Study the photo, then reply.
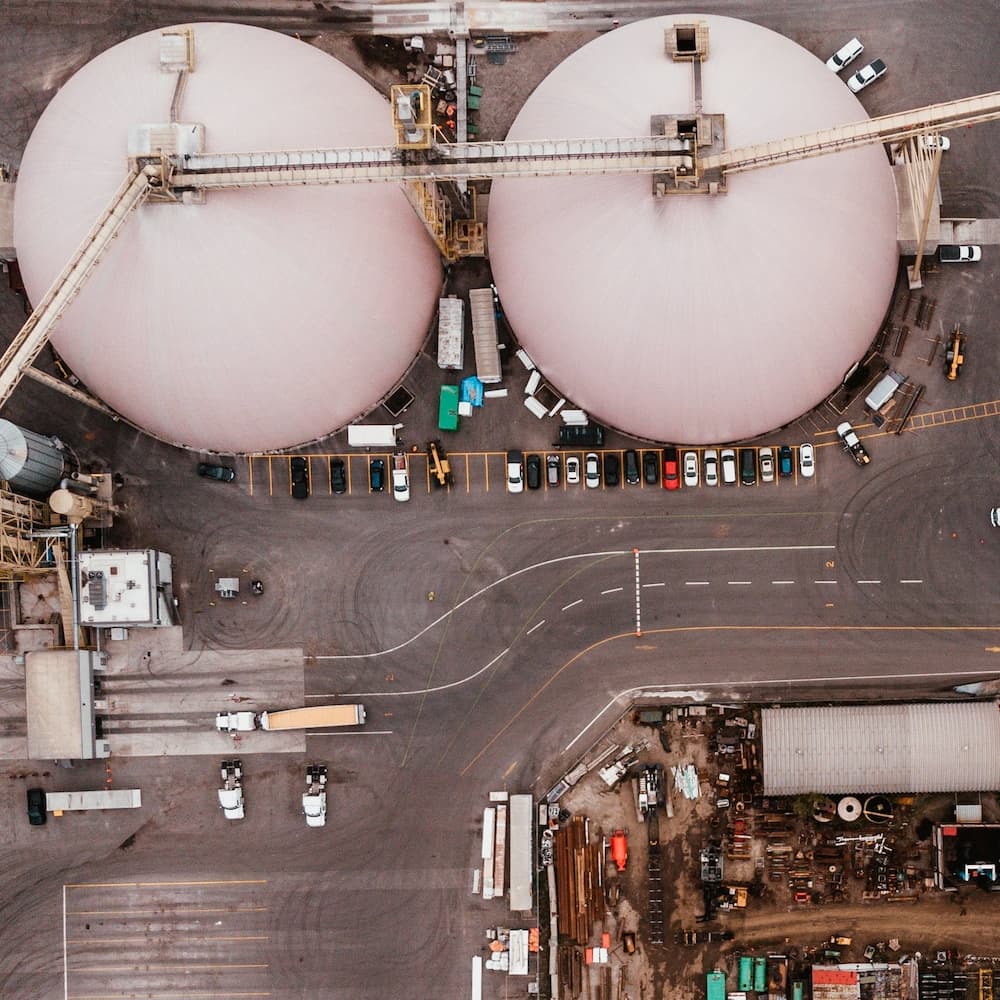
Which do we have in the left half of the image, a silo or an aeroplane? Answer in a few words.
silo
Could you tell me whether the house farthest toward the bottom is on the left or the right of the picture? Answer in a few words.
right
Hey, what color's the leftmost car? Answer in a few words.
black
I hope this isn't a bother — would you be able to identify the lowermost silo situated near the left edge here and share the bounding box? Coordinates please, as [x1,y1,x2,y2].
[50,489,104,529]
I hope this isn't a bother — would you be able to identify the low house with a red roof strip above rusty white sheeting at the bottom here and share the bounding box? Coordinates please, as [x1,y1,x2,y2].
[812,963,905,1000]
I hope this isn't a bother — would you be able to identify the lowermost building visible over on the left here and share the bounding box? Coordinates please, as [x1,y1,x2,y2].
[79,550,182,632]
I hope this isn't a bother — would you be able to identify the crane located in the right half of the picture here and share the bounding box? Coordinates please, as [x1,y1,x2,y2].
[632,755,668,946]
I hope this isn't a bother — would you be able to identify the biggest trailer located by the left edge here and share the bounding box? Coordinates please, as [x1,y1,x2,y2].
[47,789,146,811]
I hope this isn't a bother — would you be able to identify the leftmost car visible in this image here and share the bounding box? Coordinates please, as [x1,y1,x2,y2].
[26,788,48,826]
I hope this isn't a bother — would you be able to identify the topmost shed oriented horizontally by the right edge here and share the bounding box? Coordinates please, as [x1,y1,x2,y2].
[763,701,1000,796]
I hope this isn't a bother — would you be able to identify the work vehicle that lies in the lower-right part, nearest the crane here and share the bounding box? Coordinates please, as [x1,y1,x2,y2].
[709,888,749,908]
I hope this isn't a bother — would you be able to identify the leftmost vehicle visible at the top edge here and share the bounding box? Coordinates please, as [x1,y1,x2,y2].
[401,31,425,51]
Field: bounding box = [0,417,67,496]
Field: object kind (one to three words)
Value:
silo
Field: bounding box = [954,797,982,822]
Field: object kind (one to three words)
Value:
shed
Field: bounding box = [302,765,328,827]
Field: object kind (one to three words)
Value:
truck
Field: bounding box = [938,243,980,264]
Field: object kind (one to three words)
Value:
vehicle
